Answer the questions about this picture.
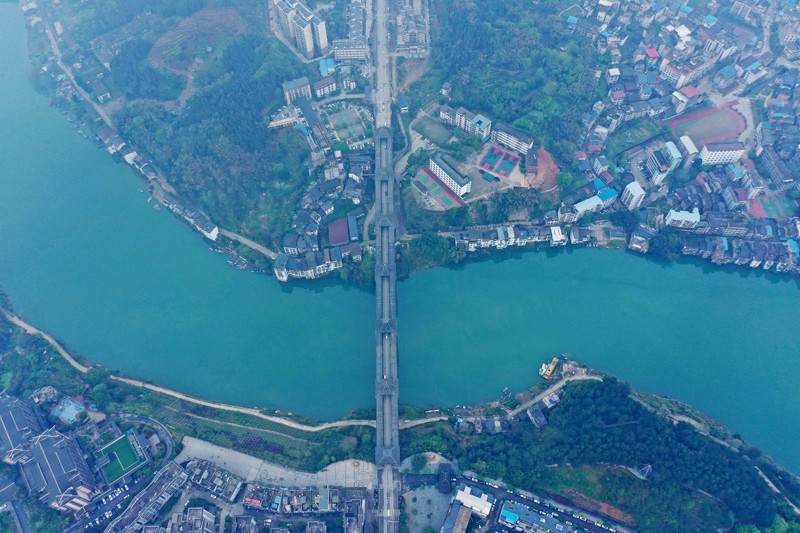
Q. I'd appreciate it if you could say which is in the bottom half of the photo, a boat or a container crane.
boat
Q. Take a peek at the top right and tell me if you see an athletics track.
Yes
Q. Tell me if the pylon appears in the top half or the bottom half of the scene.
bottom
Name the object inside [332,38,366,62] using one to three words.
building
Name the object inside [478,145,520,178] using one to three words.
sports court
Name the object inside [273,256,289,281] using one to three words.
house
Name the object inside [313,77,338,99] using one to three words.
building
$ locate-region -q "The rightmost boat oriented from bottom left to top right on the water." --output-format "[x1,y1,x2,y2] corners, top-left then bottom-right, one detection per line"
[538,354,562,379]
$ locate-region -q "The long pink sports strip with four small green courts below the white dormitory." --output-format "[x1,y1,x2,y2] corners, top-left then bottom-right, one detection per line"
[410,166,459,208]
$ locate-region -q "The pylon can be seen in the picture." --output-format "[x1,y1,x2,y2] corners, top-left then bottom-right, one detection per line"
[630,469,652,489]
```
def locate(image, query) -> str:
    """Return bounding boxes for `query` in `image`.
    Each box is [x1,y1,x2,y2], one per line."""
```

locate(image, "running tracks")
[666,104,746,148]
